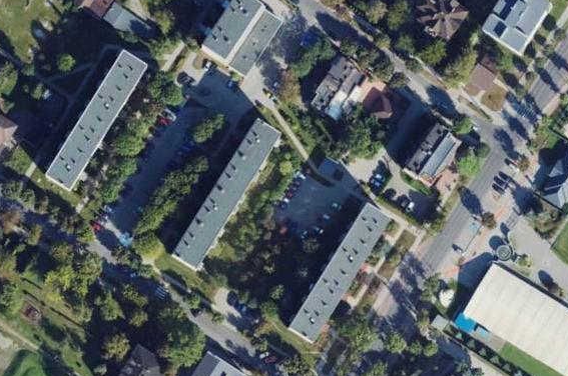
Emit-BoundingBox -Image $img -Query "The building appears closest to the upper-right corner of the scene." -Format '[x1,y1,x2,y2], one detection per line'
[481,0,553,58]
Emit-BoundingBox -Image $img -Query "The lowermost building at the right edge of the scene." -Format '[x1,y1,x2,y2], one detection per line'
[455,263,568,376]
